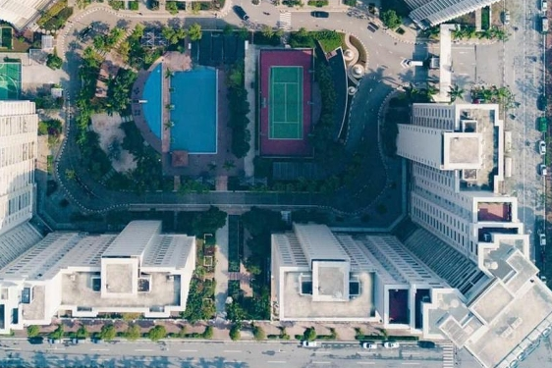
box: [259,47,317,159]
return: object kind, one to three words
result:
tennis court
